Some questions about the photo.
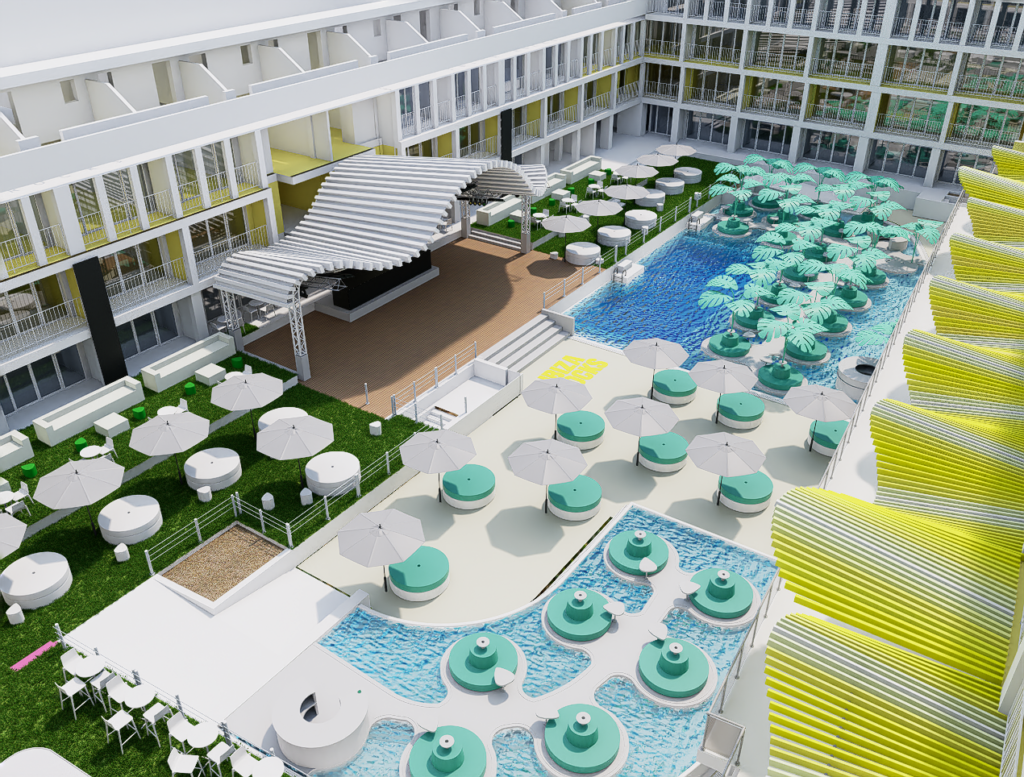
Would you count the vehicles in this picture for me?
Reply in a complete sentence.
The picture shows no vehicles.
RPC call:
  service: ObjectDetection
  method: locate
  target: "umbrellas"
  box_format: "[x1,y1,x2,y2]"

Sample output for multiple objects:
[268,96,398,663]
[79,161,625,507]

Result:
[685,435,766,505]
[0,516,24,561]
[31,459,124,535]
[337,512,423,592]
[399,432,477,503]
[603,185,648,226]
[211,372,282,438]
[688,363,759,424]
[256,416,334,486]
[521,376,593,440]
[129,412,209,483]
[604,399,679,466]
[573,201,621,245]
[783,387,859,452]
[655,143,696,159]
[623,340,690,399]
[613,165,657,186]
[635,153,677,170]
[508,441,588,513]
[541,217,592,263]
